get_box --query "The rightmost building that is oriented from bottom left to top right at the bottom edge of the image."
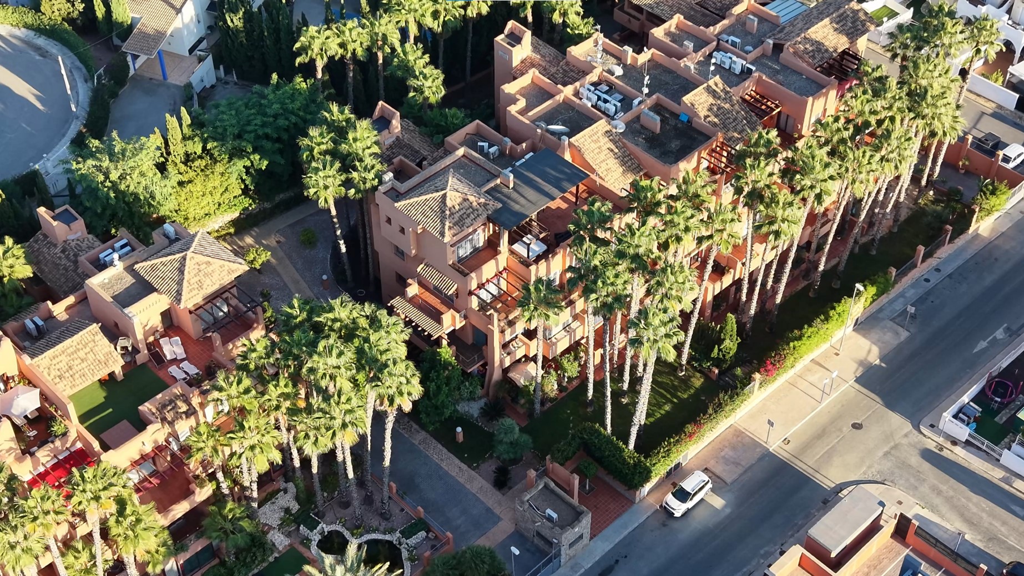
[804,484,886,568]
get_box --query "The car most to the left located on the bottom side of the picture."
[661,467,714,517]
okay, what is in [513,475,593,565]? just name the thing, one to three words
shed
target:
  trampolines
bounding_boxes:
[981,363,1024,414]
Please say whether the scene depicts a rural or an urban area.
urban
